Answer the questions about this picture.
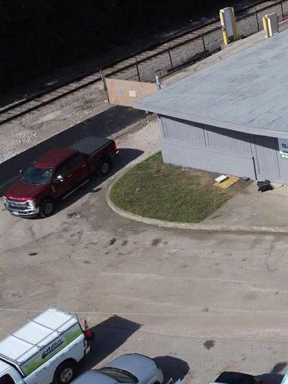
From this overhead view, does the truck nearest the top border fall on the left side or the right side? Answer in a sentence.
The truck nearest the top border sits on the left side.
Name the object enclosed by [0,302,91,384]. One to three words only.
truck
